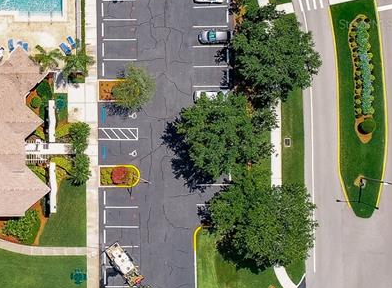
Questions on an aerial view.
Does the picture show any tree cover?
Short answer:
Yes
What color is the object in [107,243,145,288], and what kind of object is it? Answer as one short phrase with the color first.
white trailer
